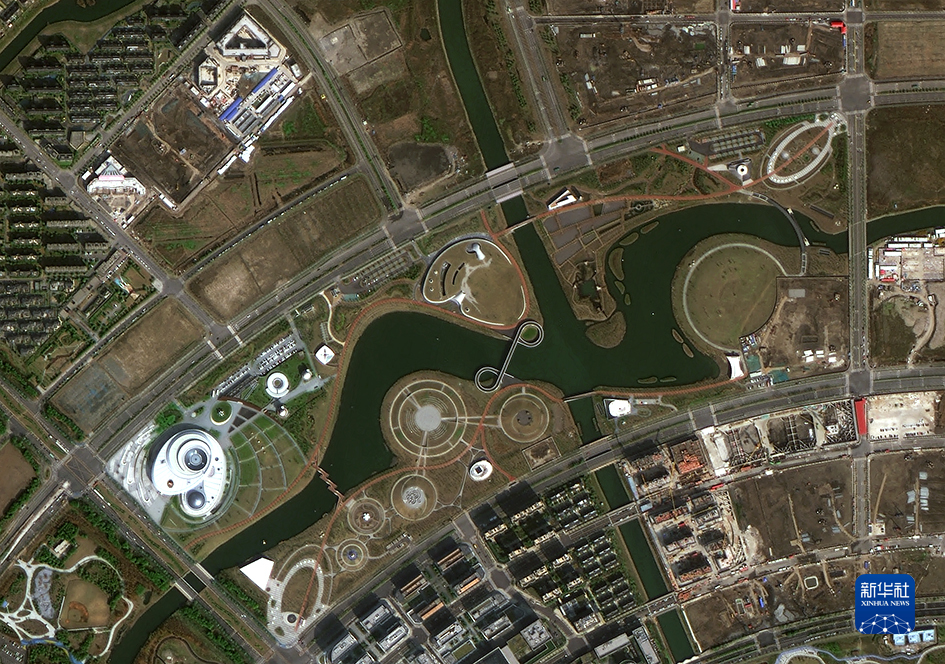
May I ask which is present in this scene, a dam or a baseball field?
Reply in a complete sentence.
This aerial view contains a baseball field.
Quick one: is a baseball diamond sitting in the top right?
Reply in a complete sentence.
No, no baseball diamond appears in the top right.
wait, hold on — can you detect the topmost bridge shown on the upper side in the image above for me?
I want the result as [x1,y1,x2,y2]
[484,163,528,202]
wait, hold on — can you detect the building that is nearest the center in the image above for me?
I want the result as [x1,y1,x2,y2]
[422,238,525,325]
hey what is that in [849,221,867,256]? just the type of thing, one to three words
bridge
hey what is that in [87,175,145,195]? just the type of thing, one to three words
building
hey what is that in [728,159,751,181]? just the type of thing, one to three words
building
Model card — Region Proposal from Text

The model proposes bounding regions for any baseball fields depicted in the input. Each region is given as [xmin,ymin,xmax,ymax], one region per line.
[64,575,111,631]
